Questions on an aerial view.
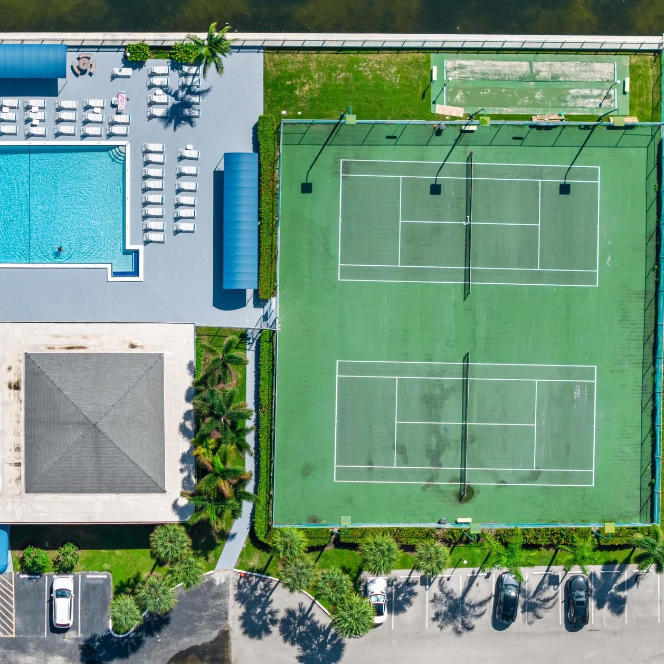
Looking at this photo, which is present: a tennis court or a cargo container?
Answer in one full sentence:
Looking from above, you can make out a tennis court.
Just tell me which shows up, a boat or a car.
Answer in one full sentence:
The image shows a car.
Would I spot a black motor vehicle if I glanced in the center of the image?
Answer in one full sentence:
No, there's no black motor vehicle to be seen in the center of the image.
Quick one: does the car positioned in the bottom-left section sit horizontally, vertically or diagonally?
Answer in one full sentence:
What the image shows is the car positioned in the bottom-left section lying vertically.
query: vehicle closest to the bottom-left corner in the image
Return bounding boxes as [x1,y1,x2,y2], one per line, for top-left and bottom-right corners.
[50,574,75,628]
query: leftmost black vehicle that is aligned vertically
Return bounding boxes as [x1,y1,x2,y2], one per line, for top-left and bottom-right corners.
[496,571,520,624]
